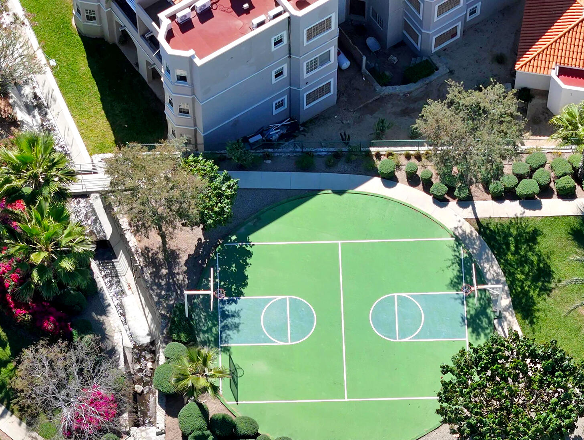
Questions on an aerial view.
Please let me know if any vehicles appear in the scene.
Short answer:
No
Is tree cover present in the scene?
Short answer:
Yes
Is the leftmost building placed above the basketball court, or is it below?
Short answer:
above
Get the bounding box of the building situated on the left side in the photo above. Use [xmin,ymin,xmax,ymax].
[68,0,338,145]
